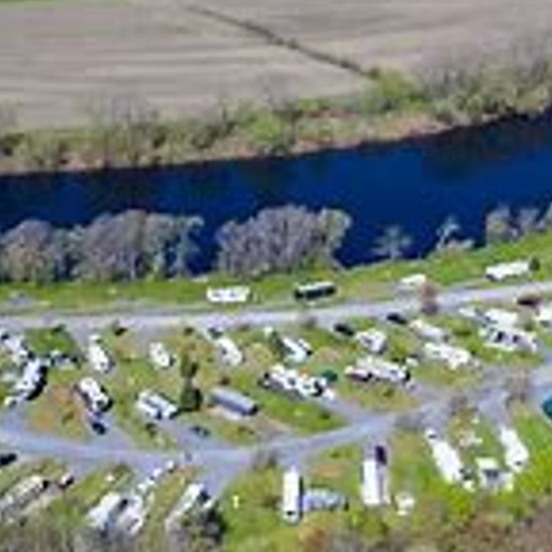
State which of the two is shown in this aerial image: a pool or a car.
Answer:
car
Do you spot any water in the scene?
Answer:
Yes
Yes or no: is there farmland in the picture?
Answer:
Yes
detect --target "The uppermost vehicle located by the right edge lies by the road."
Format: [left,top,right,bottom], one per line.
[484,263,529,288]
